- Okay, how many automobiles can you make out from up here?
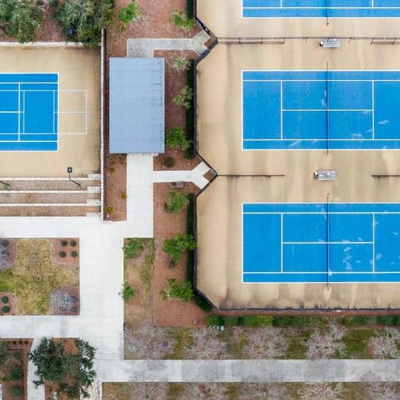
none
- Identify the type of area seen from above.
sports ground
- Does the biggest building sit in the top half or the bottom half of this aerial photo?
top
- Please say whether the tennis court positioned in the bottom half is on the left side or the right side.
right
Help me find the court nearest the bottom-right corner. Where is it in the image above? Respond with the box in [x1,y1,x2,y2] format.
[197,175,400,309]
